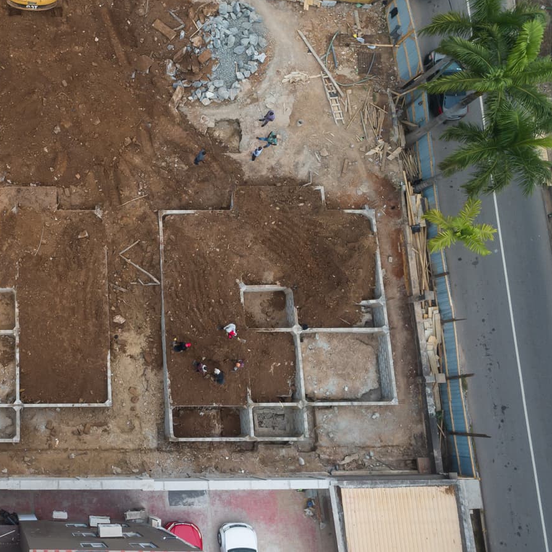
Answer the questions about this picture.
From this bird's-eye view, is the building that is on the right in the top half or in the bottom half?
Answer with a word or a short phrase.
bottom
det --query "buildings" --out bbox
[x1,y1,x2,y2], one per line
[323,478,485,552]
[20,521,206,552]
